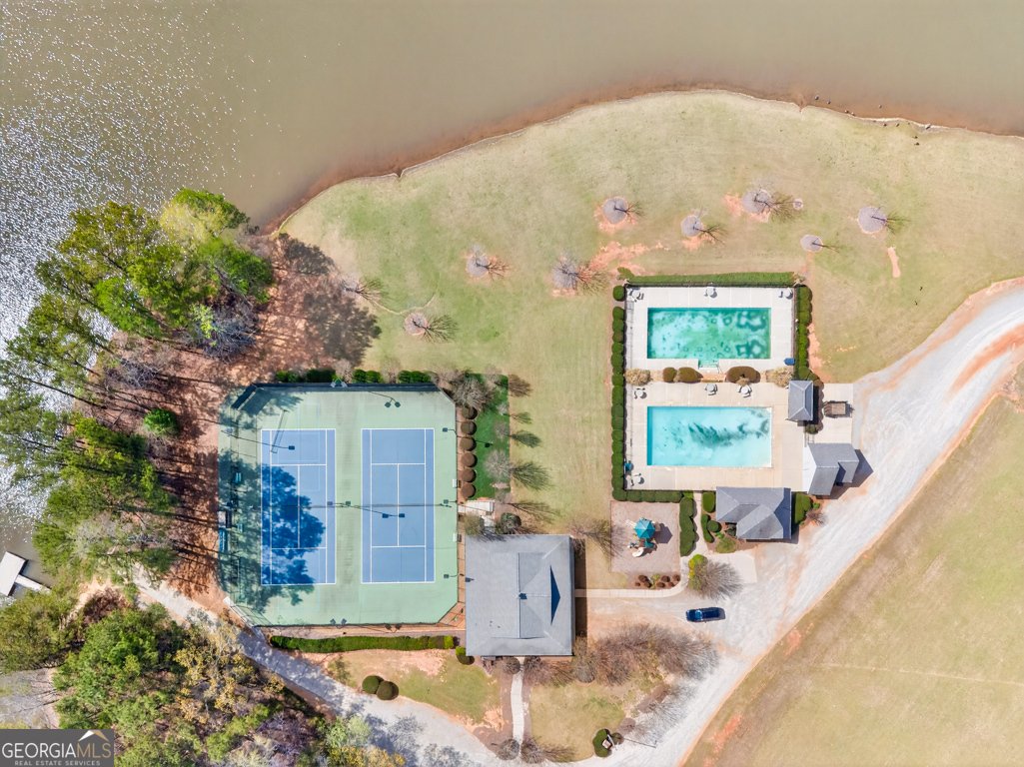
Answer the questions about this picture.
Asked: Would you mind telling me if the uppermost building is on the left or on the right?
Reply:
right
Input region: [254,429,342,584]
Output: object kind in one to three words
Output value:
tennis court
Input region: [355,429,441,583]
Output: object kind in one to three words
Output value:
tennis court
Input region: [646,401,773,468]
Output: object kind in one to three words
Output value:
swimming pool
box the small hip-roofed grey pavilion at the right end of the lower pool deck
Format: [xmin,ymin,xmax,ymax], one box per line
[785,380,814,421]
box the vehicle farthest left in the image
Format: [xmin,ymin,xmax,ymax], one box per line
[687,608,721,624]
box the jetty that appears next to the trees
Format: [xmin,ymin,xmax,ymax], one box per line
[0,552,56,596]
